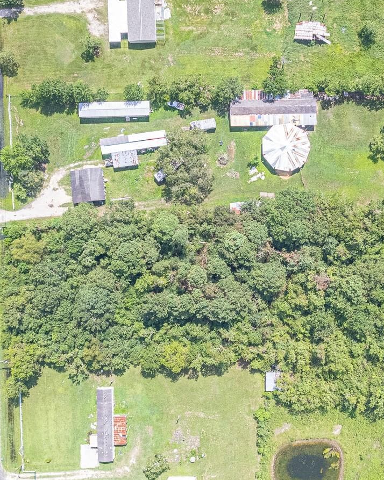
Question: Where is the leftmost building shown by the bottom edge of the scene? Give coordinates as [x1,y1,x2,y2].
[90,387,128,462]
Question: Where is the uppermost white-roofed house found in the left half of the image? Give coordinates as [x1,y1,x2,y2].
[108,0,166,46]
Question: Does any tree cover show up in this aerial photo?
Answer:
Yes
